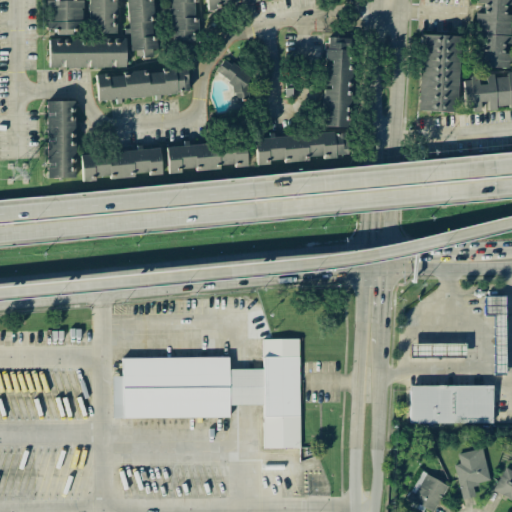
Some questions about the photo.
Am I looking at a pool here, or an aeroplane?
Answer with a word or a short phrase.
pool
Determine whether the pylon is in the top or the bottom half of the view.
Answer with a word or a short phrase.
top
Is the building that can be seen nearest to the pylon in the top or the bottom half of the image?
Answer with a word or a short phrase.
top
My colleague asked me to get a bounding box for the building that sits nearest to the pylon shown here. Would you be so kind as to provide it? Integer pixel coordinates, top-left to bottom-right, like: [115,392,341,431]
[47,101,77,179]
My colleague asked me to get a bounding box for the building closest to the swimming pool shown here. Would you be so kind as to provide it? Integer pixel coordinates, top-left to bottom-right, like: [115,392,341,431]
[218,59,250,98]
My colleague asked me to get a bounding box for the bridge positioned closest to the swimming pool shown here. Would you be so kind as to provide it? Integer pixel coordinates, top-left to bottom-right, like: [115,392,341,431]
[0,152,512,248]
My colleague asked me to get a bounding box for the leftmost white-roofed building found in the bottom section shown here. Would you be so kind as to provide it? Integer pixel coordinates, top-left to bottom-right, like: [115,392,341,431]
[112,339,310,462]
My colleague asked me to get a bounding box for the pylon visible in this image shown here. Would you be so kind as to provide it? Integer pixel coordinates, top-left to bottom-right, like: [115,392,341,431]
[8,163,33,184]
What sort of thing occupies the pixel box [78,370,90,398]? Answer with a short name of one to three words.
vehicle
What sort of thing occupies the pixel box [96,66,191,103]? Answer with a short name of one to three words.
building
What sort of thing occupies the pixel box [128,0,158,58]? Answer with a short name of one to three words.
building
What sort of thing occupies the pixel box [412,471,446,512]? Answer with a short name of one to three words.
house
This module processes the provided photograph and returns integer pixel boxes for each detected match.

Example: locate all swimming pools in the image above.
[210,73,236,114]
